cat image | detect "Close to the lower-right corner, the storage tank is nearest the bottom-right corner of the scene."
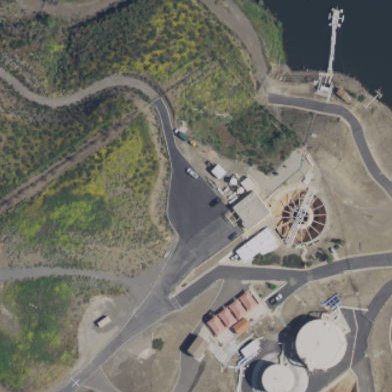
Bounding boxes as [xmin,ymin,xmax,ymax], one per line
[296,320,350,374]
